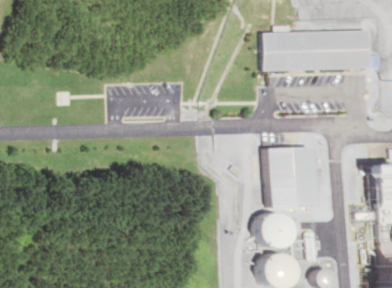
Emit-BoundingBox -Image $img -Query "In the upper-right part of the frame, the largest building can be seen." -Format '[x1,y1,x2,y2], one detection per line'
[257,30,372,72]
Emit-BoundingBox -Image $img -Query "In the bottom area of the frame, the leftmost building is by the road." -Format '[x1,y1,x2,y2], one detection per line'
[260,146,320,207]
